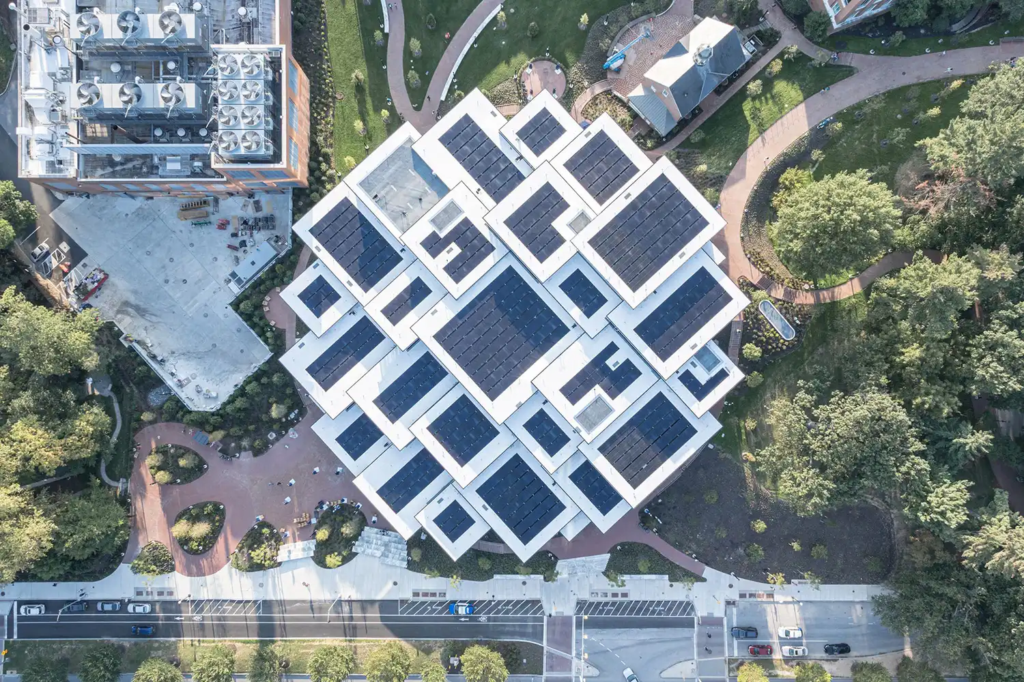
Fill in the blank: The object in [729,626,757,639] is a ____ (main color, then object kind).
blue vehicle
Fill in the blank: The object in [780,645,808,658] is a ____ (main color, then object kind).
white vehicle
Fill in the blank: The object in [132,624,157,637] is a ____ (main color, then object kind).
blue vehicle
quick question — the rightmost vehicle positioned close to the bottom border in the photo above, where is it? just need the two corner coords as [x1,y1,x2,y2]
[823,642,850,654]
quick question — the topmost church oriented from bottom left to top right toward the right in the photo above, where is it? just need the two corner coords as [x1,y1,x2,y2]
[627,16,747,137]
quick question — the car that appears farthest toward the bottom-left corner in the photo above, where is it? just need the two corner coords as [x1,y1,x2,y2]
[21,603,47,616]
